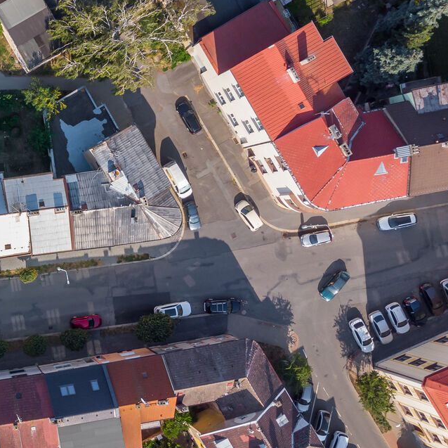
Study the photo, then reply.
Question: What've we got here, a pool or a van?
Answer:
van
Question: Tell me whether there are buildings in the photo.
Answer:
Yes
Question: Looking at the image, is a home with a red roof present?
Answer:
Yes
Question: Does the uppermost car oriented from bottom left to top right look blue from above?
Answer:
Yes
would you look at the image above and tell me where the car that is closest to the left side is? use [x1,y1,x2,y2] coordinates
[69,313,101,328]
